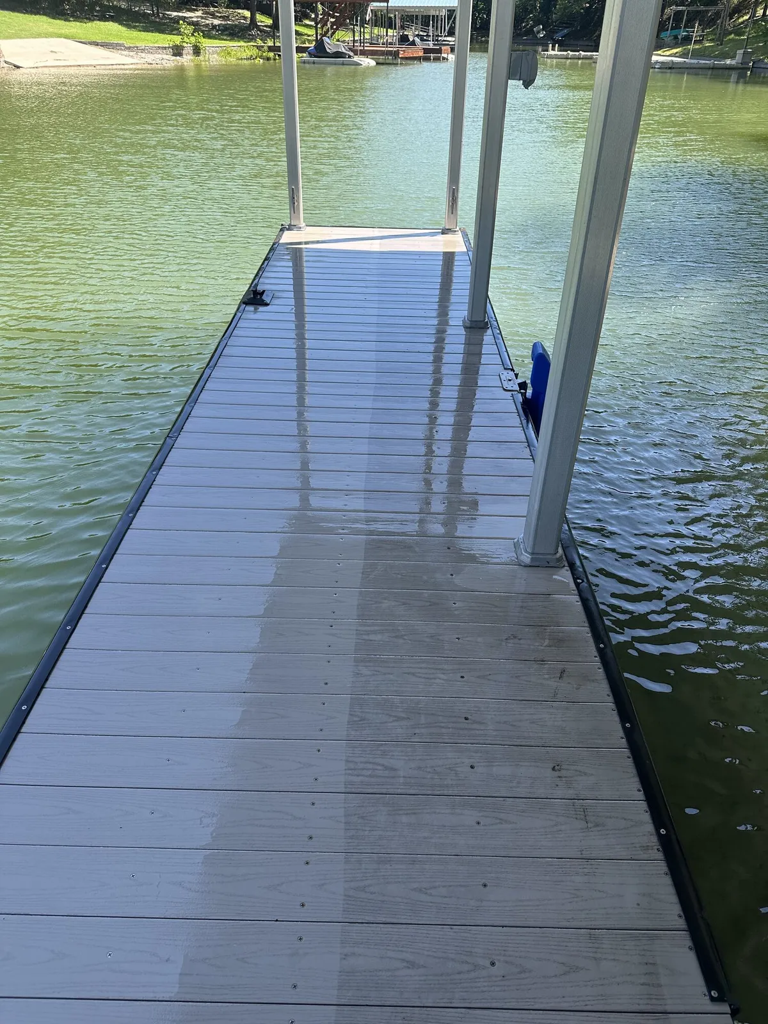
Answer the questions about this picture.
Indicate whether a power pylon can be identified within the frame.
No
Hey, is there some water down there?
Yes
